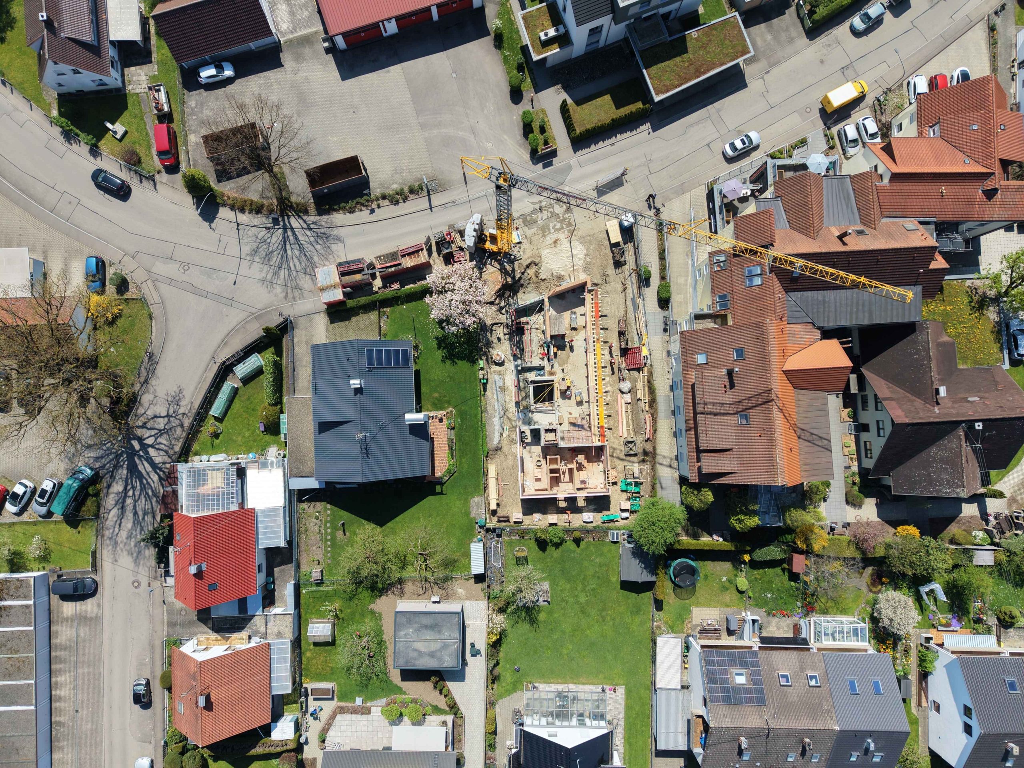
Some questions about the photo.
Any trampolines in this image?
Yes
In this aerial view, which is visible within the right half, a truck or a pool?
truck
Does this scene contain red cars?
Yes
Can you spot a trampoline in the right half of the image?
Yes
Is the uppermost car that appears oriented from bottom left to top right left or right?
right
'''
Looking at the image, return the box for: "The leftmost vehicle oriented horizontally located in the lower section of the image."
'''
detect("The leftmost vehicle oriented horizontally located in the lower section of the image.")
[54,577,97,596]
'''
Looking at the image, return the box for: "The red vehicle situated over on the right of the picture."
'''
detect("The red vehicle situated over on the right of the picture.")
[928,72,949,92]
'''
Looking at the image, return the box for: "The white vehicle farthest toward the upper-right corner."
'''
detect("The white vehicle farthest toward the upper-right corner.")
[949,65,971,86]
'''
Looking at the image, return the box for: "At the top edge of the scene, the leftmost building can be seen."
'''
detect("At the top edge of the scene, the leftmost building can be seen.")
[24,0,126,95]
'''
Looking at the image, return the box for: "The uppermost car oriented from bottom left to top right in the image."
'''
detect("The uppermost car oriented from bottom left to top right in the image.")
[849,2,887,34]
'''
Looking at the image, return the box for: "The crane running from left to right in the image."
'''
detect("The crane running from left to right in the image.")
[461,154,917,305]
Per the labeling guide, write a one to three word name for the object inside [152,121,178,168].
vehicle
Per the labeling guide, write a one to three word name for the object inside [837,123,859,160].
car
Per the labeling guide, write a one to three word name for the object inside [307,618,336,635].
greenhouse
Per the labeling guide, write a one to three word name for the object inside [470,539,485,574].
shed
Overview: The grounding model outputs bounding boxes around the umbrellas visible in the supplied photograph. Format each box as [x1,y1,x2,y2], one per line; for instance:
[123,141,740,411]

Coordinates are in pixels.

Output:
[719,180,744,201]
[804,153,829,174]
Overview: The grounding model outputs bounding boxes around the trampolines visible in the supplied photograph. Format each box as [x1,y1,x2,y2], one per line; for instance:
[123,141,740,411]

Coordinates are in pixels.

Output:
[668,557,705,592]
